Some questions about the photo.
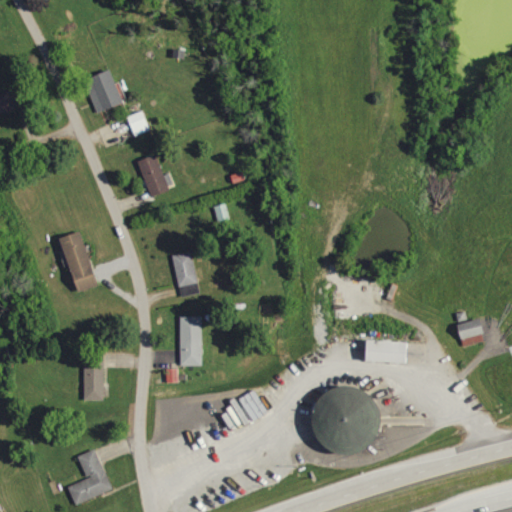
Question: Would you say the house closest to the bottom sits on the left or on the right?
left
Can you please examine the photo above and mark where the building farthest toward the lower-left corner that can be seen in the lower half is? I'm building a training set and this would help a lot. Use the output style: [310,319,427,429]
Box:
[68,446,112,504]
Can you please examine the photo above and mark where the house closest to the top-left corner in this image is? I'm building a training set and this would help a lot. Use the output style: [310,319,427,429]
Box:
[87,70,123,112]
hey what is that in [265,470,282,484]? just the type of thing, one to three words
vehicle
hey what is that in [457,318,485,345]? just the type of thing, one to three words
barn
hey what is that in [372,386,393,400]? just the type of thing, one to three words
vehicle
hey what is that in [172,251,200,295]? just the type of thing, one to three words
house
